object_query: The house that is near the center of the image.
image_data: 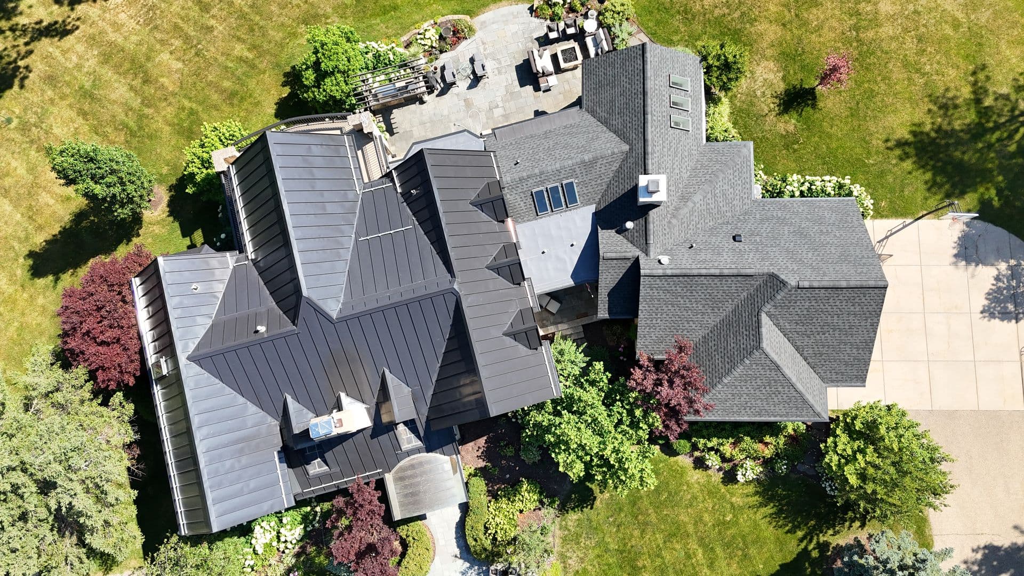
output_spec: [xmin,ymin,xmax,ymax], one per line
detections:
[127,43,888,536]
